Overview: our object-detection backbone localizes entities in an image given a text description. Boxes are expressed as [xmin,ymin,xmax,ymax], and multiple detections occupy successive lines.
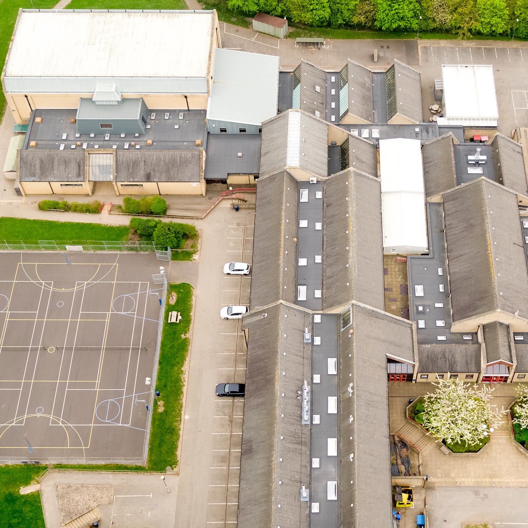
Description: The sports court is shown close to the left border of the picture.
[0,252,171,465]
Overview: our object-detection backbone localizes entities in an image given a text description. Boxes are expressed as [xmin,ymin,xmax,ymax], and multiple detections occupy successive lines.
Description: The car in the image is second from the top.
[220,305,248,320]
